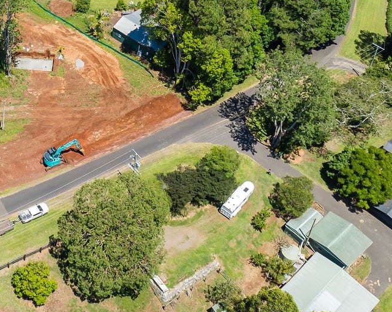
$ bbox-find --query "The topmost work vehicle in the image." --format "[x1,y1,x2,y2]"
[41,133,89,168]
